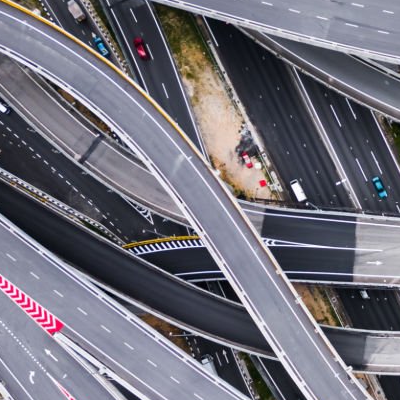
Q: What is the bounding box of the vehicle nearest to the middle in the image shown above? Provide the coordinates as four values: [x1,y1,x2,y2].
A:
[289,179,306,204]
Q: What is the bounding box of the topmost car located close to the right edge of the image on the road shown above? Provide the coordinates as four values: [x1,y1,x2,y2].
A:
[372,175,386,198]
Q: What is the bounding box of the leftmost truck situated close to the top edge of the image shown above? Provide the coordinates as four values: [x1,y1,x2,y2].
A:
[66,0,87,25]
